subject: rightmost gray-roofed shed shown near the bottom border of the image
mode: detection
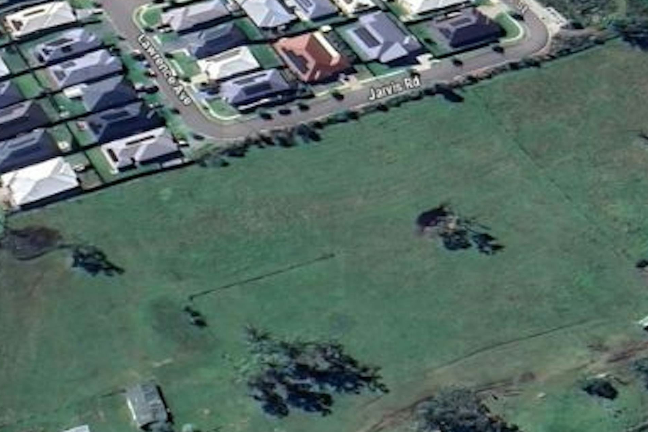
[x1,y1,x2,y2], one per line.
[127,383,169,432]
